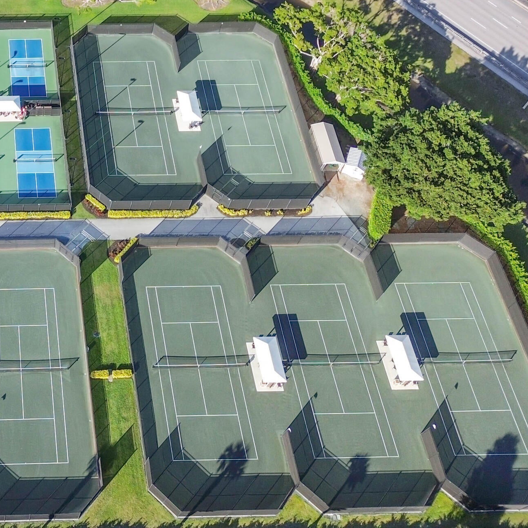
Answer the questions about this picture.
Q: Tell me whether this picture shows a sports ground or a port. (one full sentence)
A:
What you see here is a sports ground.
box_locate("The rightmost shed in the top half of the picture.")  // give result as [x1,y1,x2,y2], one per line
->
[343,148,364,177]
